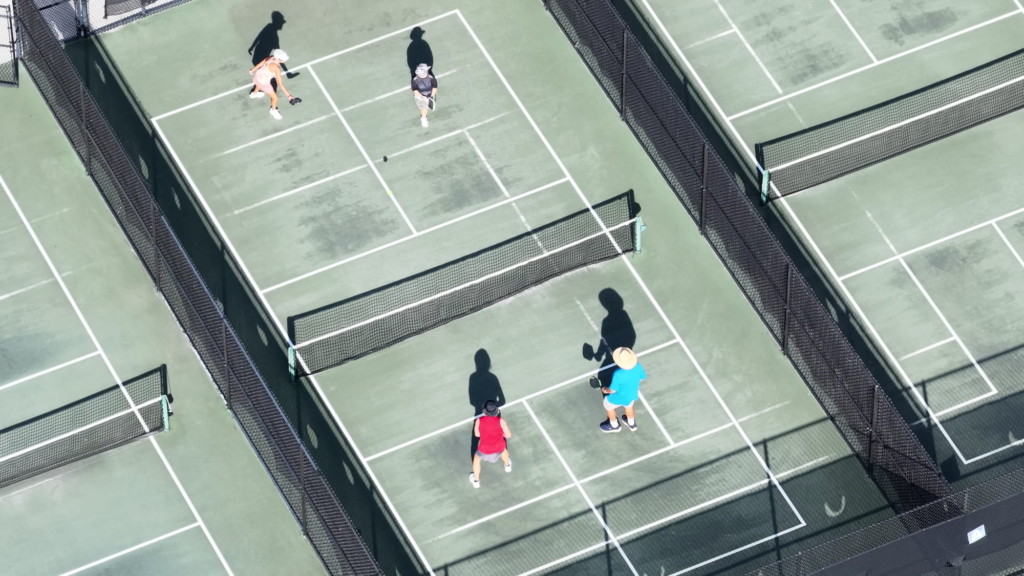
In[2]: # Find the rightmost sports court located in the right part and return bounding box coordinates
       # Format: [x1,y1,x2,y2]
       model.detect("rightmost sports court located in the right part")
[544,0,1024,576]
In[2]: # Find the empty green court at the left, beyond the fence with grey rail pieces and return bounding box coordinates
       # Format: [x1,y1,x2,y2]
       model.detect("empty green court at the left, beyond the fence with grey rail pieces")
[0,62,326,576]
